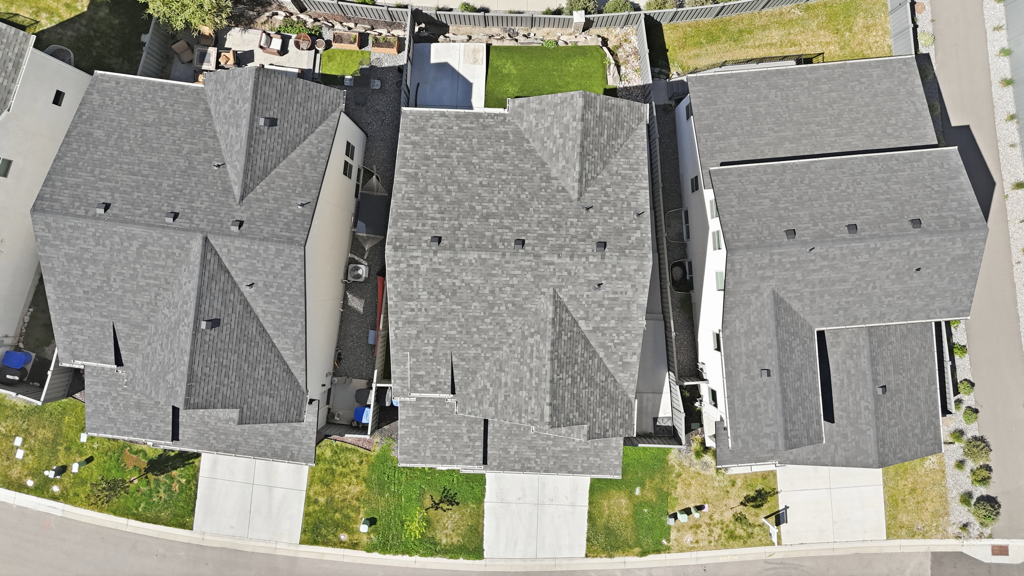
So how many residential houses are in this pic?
3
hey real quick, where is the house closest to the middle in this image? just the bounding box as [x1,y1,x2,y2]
[388,91,655,480]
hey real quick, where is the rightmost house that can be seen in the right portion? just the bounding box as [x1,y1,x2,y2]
[676,52,990,469]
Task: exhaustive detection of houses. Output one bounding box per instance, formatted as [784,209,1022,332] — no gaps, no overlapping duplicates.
[388,91,655,480]
[37,66,365,471]
[676,52,990,469]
